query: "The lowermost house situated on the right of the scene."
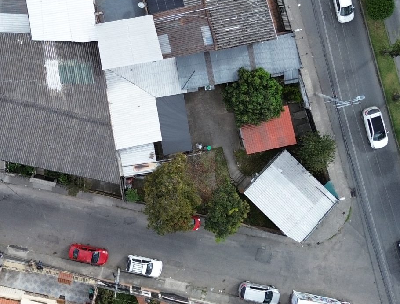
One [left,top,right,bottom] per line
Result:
[244,150,340,242]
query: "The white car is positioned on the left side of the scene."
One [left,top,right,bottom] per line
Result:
[120,251,167,279]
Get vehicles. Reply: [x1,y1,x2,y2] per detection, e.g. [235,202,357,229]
[235,280,282,304]
[332,0,355,29]
[65,242,111,268]
[358,102,389,153]
[179,211,207,232]
[279,287,348,304]
[120,251,167,279]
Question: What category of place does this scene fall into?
residential area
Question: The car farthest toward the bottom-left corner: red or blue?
red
